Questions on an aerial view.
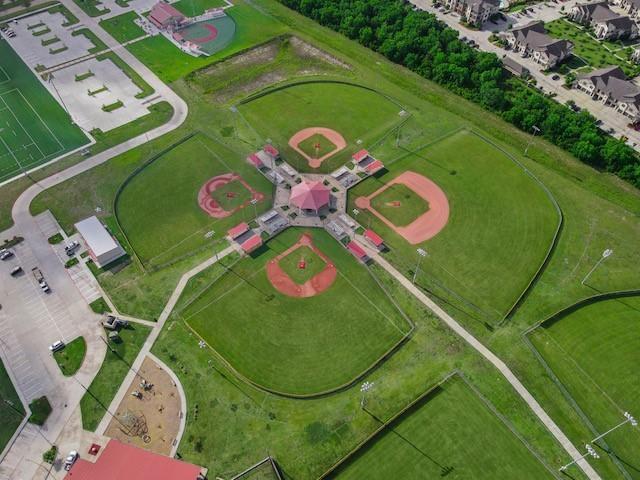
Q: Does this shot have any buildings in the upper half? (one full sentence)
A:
Yes, a building can be seen in the upper half.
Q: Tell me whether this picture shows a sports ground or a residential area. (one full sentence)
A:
The picture captures a sports ground.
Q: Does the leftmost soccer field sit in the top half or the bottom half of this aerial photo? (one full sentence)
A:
Seen from above, the leftmost soccer field lies in the top half of the view.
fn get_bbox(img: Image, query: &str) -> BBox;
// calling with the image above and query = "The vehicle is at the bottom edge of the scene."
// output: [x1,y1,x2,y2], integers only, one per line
[61,450,75,469]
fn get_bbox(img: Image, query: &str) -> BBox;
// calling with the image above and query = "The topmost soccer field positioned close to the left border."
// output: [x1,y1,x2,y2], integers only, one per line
[0,28,95,188]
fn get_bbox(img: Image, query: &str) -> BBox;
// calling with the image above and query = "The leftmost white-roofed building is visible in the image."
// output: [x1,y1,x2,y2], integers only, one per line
[75,215,127,270]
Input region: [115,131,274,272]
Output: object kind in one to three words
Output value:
baseball field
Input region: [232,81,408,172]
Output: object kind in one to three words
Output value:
baseball field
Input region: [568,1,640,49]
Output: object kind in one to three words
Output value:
building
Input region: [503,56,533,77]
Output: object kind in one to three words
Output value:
shed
